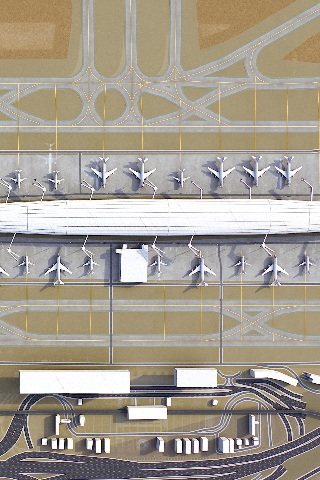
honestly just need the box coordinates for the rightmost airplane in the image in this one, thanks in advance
[300,255,317,273]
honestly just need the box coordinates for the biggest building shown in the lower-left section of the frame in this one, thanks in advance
[19,368,130,394]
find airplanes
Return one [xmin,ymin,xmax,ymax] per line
[150,255,168,274]
[276,155,304,187]
[18,254,35,273]
[10,169,27,188]
[83,255,100,274]
[46,254,73,285]
[244,155,271,187]
[91,156,118,187]
[210,156,237,187]
[48,170,65,189]
[130,157,157,188]
[235,255,252,274]
[173,169,191,187]
[263,255,291,287]
[0,265,9,276]
[300,255,317,273]
[190,255,218,287]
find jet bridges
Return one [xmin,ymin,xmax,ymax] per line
[257,234,274,256]
[236,179,252,199]
[188,181,203,199]
[296,178,313,202]
[149,236,165,257]
[7,233,20,261]
[0,177,12,203]
[81,235,95,258]
[80,179,95,199]
[32,179,47,202]
[143,178,158,199]
[186,235,202,256]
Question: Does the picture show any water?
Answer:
No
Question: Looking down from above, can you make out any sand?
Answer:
Yes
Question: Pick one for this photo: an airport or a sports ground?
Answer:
airport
